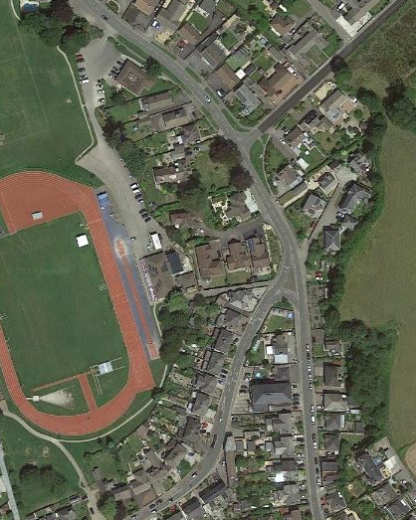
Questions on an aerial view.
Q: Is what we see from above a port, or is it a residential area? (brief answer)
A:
residential area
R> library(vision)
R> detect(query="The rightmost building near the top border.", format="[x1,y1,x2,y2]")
[348,0,380,20]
